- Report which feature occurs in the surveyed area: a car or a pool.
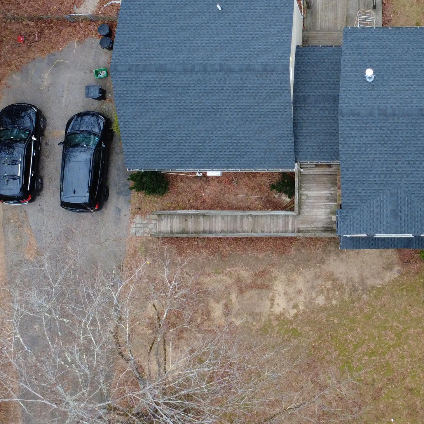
car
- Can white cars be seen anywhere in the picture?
No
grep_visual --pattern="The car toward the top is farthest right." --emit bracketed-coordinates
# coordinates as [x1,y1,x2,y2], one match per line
[58,109,114,214]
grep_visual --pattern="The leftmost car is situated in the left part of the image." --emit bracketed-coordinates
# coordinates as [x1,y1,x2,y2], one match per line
[0,101,48,206]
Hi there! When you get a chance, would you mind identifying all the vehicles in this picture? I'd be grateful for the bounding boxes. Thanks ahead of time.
[0,101,48,206]
[58,109,114,214]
